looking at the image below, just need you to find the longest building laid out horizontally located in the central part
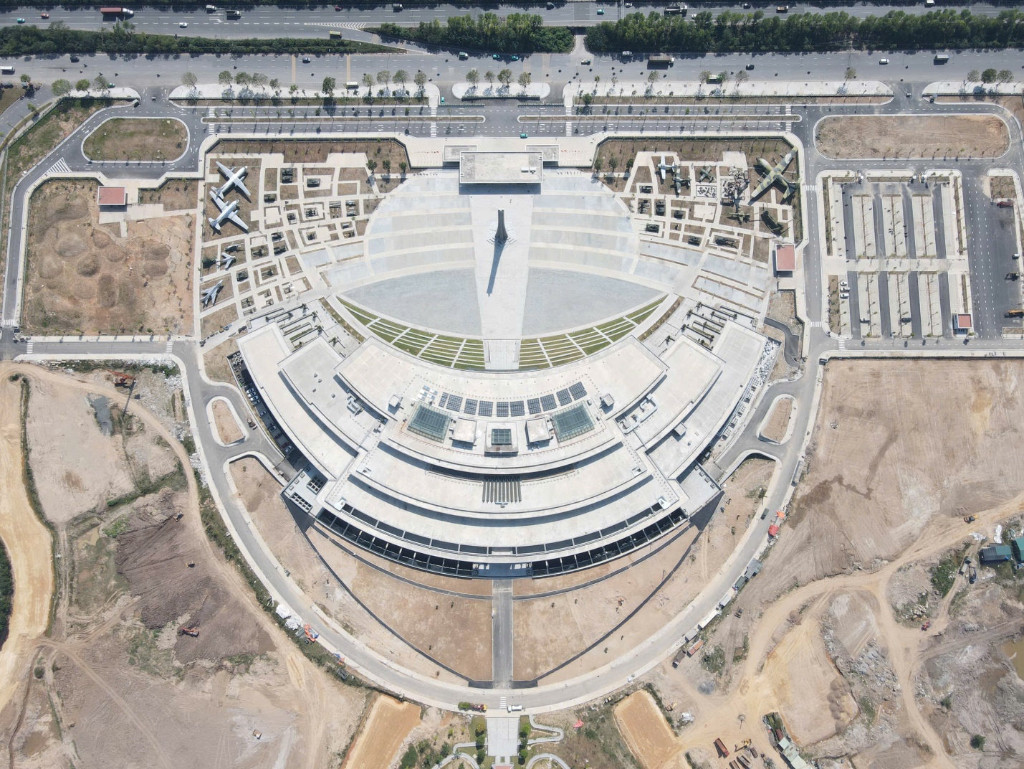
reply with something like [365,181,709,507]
[236,322,768,578]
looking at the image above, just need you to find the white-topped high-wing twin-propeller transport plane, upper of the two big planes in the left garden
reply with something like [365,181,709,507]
[214,159,253,196]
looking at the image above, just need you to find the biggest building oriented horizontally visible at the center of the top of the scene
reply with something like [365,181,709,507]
[459,151,543,187]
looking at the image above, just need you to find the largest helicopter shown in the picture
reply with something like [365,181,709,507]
[759,201,794,238]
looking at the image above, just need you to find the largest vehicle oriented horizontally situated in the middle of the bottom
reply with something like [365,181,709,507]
[458,703,487,716]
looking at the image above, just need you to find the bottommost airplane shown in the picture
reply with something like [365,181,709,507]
[198,280,223,304]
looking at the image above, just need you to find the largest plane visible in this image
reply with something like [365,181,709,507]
[750,144,802,196]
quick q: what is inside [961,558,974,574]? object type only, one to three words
vehicle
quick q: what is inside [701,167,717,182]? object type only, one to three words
airplane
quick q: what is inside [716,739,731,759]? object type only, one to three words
vehicle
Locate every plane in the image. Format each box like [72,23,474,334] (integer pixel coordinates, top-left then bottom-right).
[673,167,692,191]
[209,191,246,228]
[658,153,677,178]
[215,250,235,268]
[214,159,253,196]
[198,280,223,304]
[735,182,750,204]
[701,167,717,182]
[730,207,751,223]
[750,144,802,196]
